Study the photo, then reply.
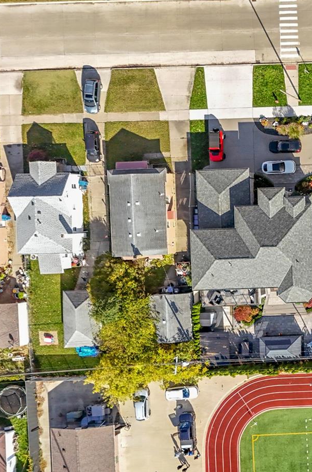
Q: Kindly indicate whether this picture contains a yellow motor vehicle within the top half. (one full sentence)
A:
No, I see no yellow motor vehicle within the top half.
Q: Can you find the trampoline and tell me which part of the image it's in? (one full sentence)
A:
The trampoline appears toward the bottom left of the photo.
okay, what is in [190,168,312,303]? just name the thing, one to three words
house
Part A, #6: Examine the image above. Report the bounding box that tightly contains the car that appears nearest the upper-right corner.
[268,138,302,154]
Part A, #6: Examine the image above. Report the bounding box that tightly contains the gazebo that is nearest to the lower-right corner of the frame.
[256,335,303,360]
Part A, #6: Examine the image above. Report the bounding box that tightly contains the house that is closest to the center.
[108,161,175,259]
